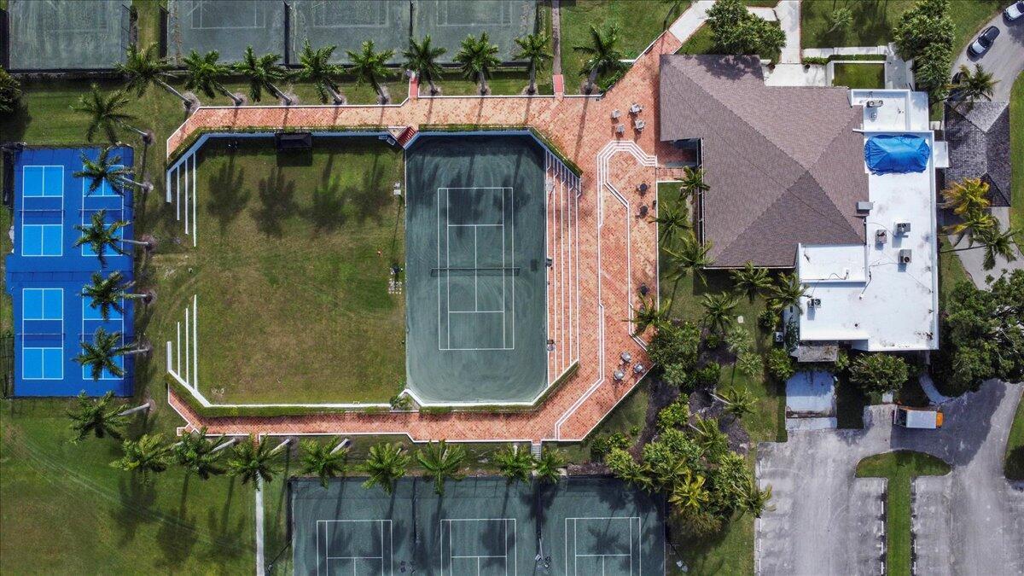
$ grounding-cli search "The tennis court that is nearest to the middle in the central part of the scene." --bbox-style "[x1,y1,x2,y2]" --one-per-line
[406,134,547,404]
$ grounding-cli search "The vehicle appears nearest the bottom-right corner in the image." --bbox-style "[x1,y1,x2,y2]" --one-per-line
[892,408,943,429]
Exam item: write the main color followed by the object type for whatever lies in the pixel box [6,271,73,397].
blue sports court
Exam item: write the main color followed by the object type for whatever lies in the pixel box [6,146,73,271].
blue sports court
